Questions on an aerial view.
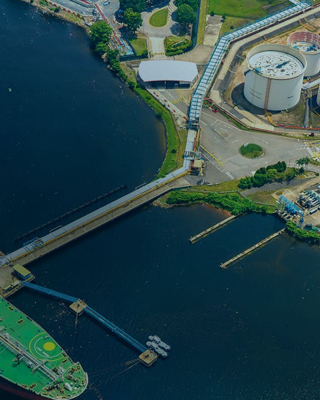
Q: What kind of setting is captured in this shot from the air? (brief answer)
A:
industrial area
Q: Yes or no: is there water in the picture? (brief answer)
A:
Yes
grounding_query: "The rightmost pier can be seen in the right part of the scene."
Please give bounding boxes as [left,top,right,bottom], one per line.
[220,229,288,271]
